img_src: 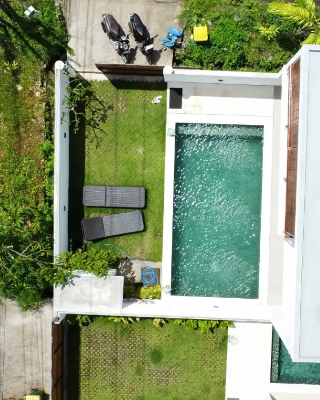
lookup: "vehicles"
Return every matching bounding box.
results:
[127,1,156,62]
[99,3,130,64]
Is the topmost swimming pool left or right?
right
